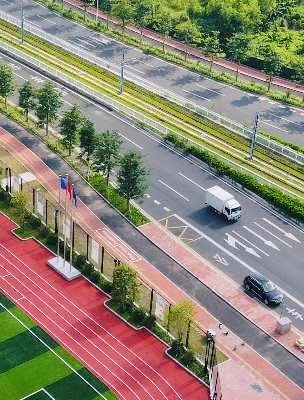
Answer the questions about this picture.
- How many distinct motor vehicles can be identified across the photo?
2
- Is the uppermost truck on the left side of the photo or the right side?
right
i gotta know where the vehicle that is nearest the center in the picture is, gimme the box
[196,179,241,219]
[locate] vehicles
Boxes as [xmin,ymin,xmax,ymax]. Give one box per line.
[196,179,241,219]
[242,271,283,303]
